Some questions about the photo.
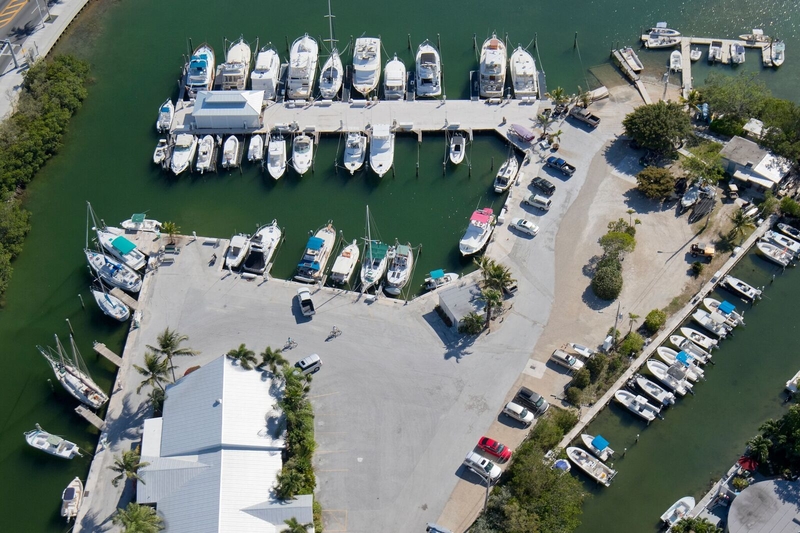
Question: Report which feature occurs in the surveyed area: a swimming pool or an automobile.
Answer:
automobile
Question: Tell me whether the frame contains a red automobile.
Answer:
Yes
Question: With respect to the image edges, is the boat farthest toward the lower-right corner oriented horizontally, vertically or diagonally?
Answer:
diagonally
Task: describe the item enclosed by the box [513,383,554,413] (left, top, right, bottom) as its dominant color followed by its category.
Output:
gray truck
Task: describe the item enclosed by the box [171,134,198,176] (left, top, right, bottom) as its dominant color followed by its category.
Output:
white boat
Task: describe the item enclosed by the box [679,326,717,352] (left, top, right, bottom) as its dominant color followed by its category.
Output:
white boat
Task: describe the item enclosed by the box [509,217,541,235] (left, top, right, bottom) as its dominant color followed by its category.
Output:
white car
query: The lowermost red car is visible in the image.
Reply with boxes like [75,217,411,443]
[477,436,512,461]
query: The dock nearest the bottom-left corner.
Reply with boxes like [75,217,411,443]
[75,404,104,431]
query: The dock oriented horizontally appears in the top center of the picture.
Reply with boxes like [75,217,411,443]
[171,100,540,154]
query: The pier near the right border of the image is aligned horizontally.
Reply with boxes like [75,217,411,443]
[641,34,773,96]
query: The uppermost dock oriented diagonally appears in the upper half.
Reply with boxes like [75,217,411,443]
[611,47,640,87]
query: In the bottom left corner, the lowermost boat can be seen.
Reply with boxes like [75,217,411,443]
[56,476,84,522]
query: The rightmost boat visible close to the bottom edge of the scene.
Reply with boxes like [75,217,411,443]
[656,497,695,531]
